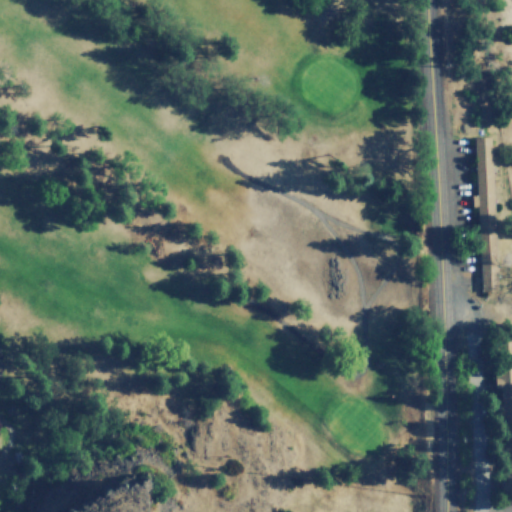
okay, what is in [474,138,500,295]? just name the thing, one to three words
building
